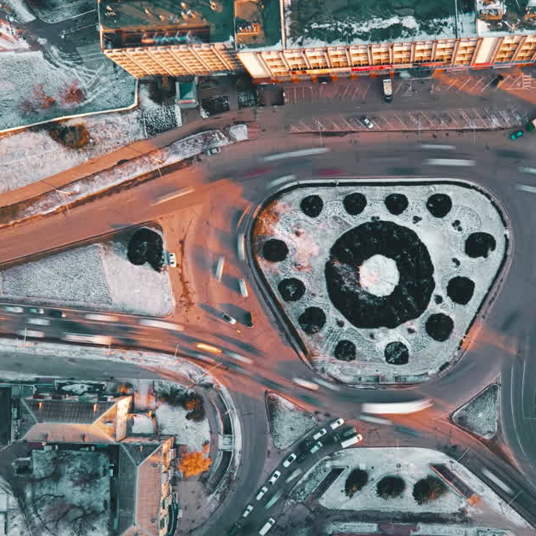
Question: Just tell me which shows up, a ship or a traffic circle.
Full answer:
Visible in the photo is a traffic circle.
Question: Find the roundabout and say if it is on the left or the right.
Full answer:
The roundabout sits on the right side.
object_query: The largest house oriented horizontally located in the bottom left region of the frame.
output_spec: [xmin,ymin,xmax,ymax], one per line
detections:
[22,394,138,443]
